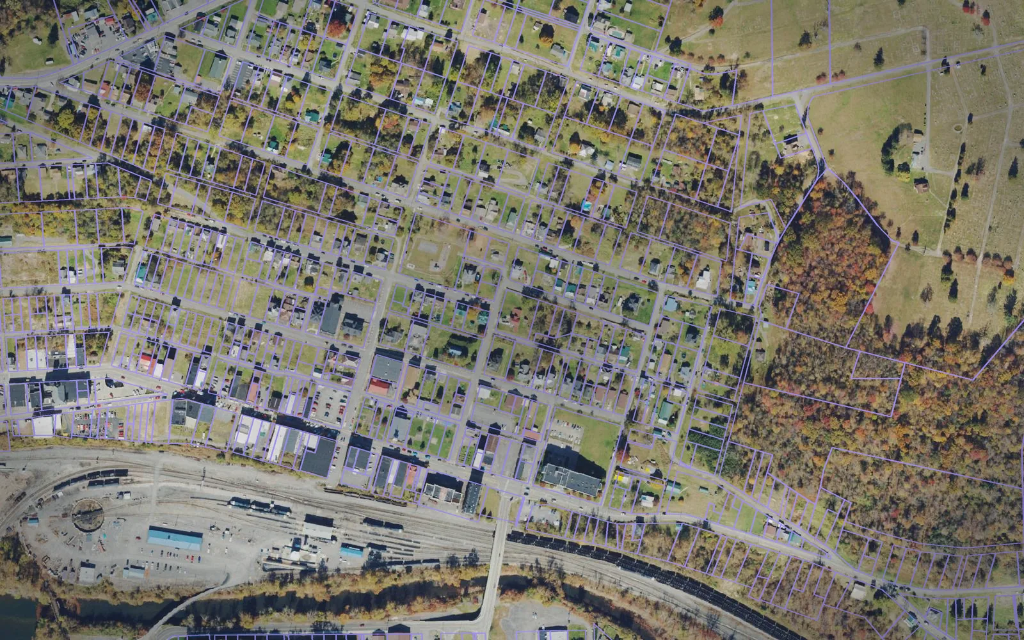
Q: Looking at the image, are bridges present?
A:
Yes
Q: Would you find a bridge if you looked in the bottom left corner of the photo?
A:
Yes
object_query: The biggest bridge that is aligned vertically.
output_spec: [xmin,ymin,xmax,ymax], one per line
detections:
[480,491,514,616]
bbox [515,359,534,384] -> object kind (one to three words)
house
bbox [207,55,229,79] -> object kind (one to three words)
building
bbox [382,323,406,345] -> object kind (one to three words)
house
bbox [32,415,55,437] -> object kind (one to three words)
building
